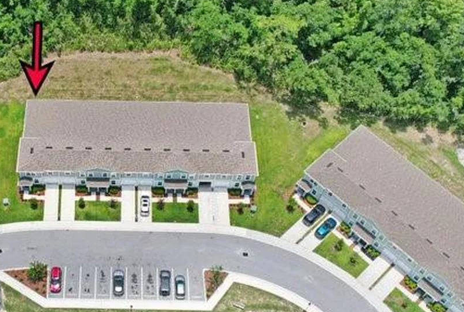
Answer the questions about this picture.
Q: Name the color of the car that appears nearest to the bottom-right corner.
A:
blue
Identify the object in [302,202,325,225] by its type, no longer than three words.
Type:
car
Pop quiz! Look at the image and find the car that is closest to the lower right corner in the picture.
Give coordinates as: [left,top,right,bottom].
[315,216,336,240]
